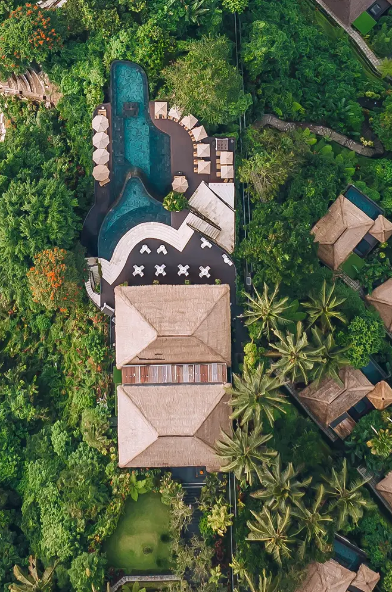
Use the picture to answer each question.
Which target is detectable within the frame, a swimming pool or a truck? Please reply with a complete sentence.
The image shows a swimming pool.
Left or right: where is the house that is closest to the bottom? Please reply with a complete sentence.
It is on the right.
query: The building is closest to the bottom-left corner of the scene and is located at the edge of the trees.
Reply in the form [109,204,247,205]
[116,381,233,469]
